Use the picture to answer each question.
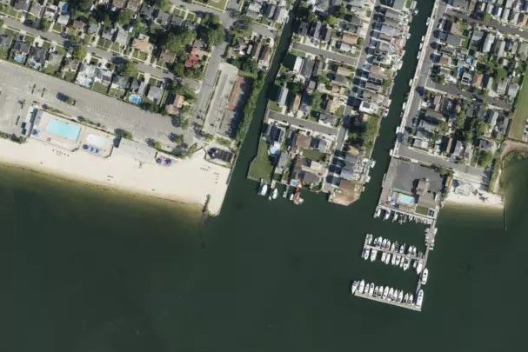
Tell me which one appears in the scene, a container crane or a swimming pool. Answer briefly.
swimming pool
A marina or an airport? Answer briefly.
marina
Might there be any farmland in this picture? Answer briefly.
No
